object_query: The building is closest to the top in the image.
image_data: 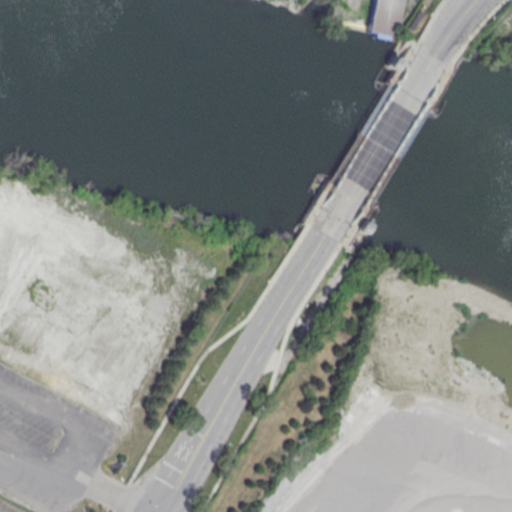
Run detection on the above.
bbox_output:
[366,0,403,45]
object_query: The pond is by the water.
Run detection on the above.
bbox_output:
[453,318,512,409]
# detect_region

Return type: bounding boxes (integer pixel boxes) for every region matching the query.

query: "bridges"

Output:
[290,40,469,247]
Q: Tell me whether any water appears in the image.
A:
Yes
